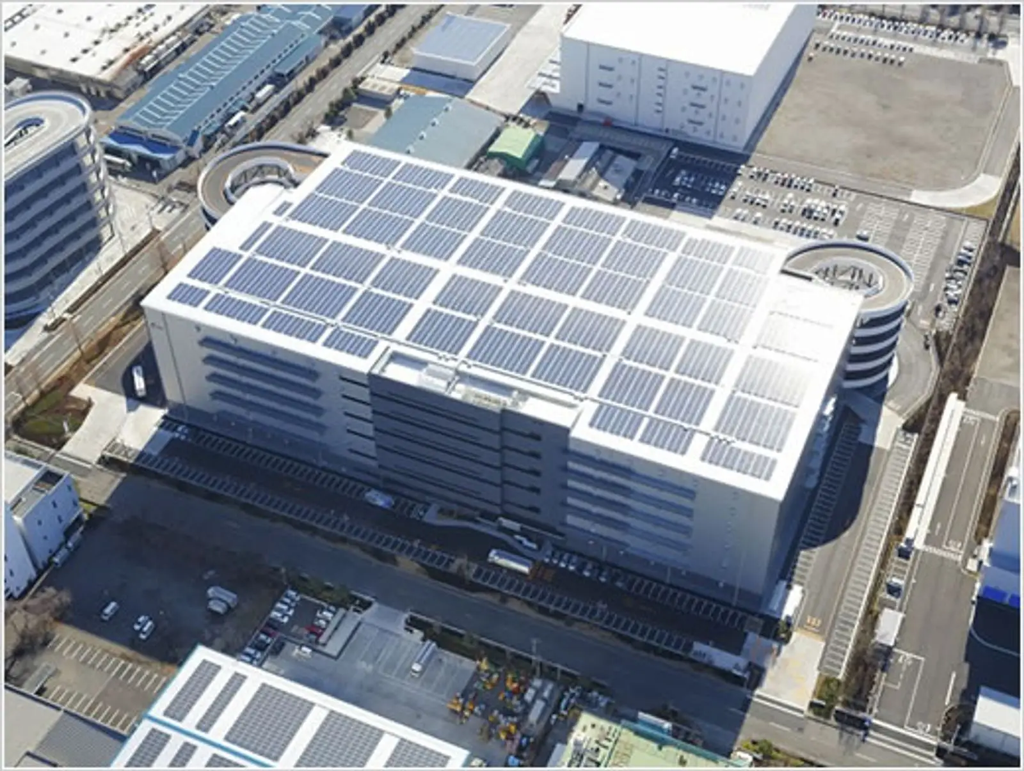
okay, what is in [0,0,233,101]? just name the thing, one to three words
building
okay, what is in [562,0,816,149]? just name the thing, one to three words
building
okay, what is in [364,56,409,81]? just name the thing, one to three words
shed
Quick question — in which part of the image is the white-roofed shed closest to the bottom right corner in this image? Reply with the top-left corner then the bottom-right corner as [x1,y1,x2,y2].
[965,686,1024,758]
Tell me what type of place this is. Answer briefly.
industrial area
